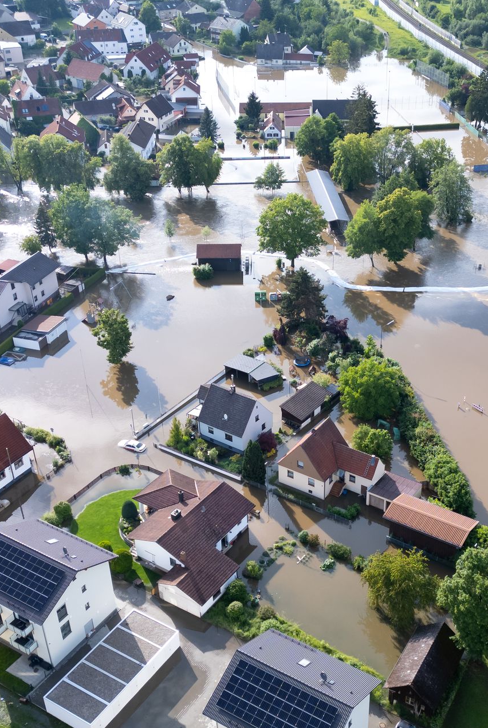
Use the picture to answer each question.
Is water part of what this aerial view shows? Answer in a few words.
Yes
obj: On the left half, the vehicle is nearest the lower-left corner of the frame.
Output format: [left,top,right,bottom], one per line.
[119,441,147,454]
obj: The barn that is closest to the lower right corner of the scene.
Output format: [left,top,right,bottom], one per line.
[384,623,466,723]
